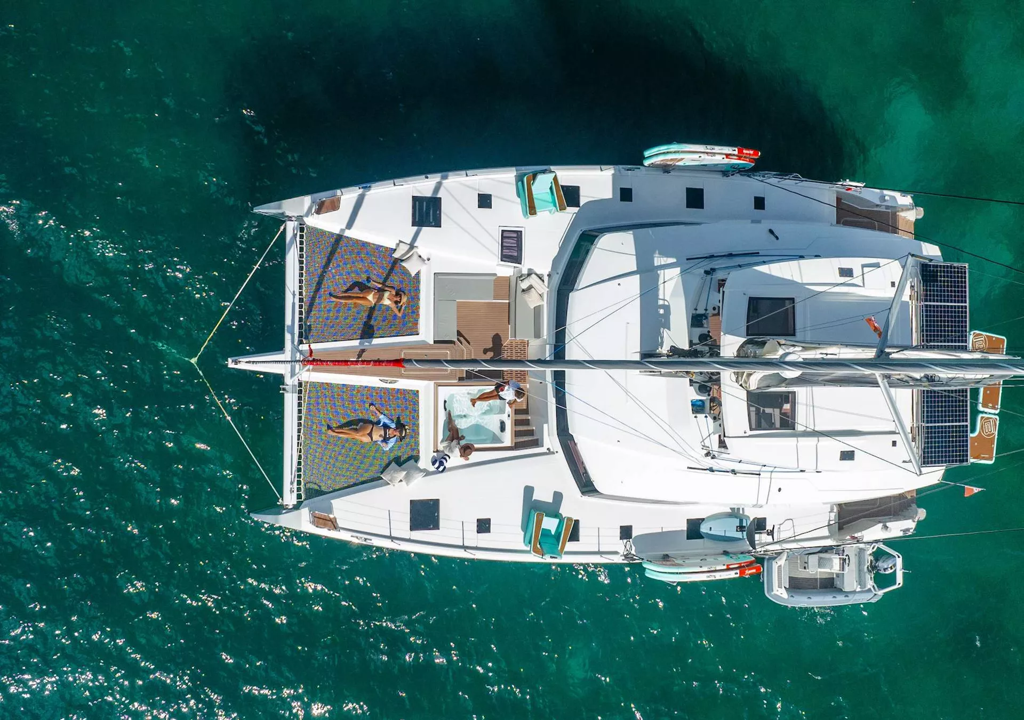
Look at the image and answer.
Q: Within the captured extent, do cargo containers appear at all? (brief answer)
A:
No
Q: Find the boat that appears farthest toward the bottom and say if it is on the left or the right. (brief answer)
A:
right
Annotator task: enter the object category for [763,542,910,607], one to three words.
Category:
boat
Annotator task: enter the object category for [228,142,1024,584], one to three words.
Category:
boat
